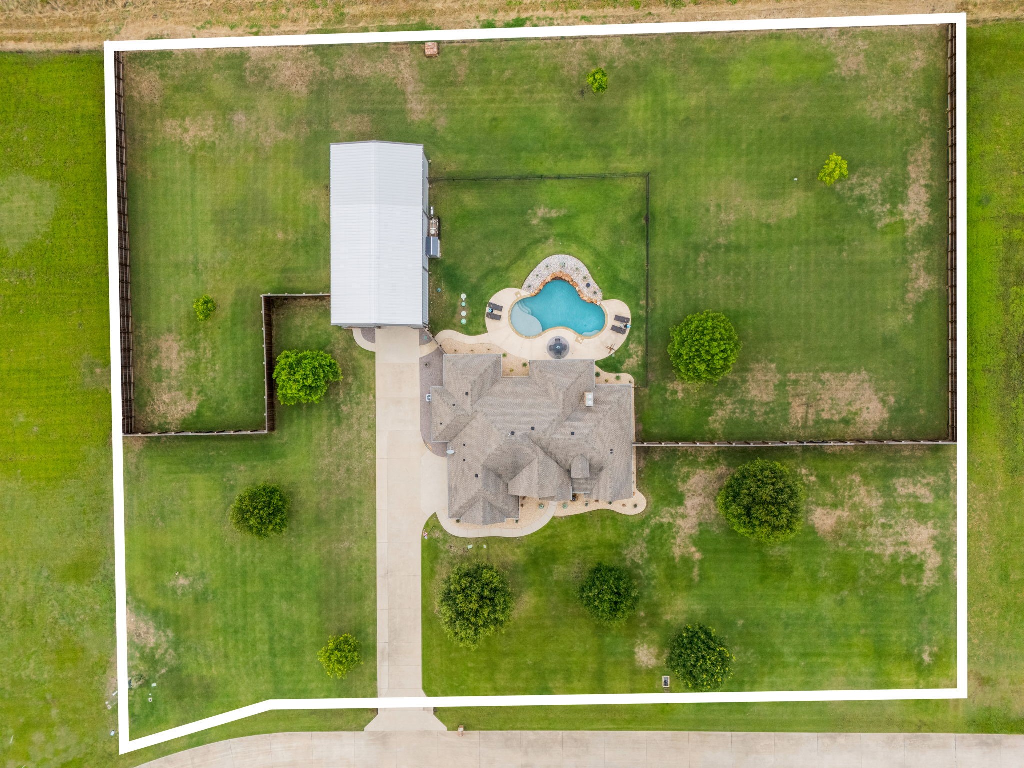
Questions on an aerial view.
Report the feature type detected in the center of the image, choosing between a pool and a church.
pool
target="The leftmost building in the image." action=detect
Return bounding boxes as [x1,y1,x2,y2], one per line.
[329,139,431,331]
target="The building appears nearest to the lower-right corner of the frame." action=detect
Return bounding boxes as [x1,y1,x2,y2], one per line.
[430,353,633,527]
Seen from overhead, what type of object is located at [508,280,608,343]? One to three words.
swimming pool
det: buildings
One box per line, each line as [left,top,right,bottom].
[430,353,633,527]
[329,139,431,331]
